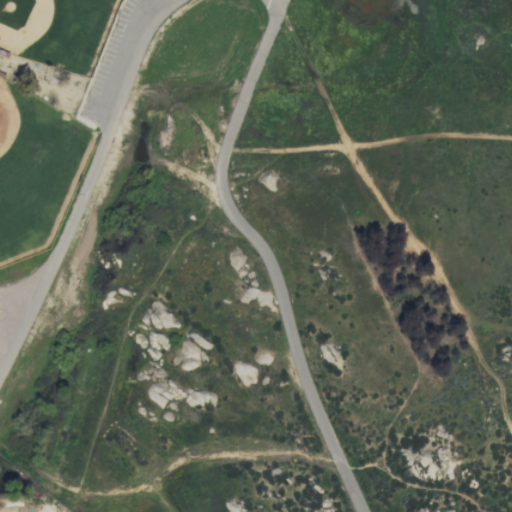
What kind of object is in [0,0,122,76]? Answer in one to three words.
baseball field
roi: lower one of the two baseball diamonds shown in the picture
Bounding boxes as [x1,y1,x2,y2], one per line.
[0,78,98,266]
